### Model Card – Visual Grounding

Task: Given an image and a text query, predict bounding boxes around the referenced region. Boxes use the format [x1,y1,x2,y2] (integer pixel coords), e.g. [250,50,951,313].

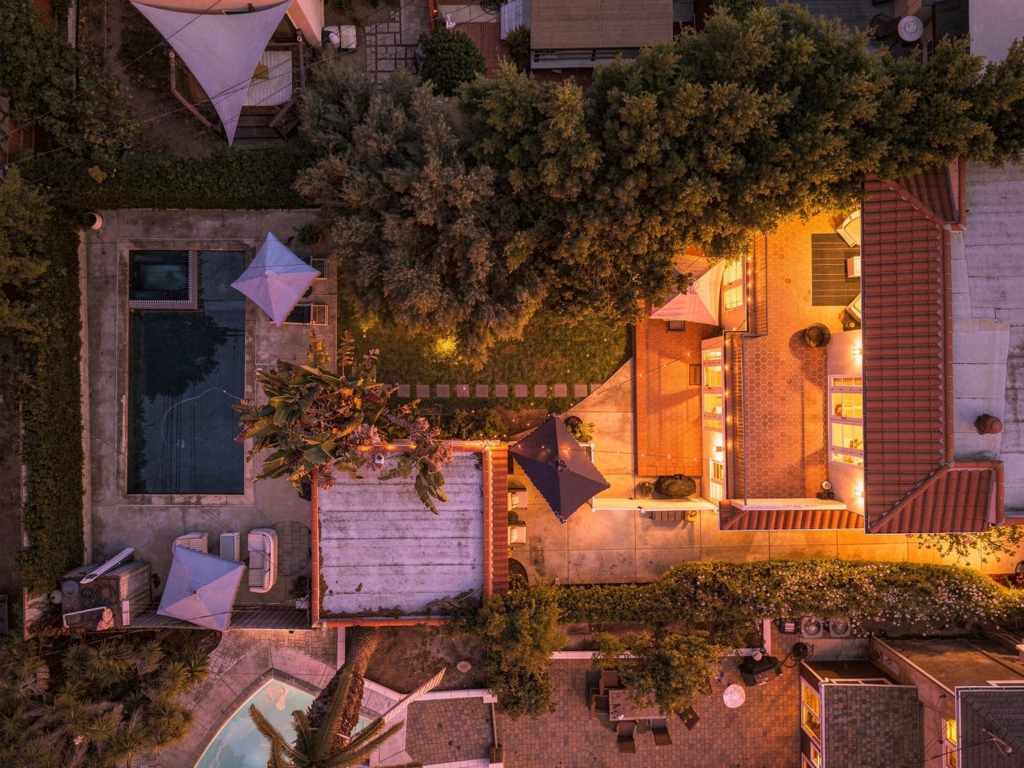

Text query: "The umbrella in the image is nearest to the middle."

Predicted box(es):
[509,413,610,522]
